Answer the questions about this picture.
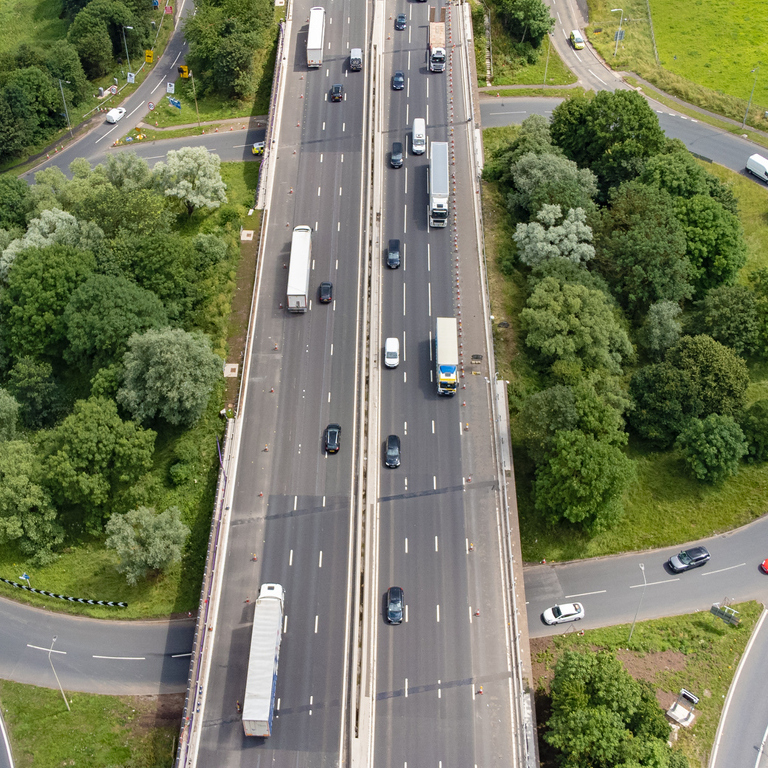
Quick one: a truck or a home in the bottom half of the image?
truck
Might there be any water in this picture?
No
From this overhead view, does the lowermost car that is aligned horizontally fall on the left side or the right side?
right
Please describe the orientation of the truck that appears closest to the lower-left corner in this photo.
up and down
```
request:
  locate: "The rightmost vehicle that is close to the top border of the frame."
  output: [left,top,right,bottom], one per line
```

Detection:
[568,30,586,50]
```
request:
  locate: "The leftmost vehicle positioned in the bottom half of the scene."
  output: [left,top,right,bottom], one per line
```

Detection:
[242,584,284,735]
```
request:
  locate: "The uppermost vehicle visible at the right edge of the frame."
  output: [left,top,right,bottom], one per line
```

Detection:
[740,157,768,185]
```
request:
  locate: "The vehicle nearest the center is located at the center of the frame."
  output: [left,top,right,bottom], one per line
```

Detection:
[384,337,400,368]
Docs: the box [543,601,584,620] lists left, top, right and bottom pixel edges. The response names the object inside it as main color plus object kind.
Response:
white car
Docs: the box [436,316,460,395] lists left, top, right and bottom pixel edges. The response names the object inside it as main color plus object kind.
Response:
white truck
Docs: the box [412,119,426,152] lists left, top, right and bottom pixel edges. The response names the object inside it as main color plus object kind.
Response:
white vehicle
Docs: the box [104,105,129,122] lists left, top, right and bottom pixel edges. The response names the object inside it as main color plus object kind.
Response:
white vehicle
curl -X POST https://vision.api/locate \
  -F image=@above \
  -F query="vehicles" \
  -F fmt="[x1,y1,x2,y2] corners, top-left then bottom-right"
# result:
[385,587,405,626]
[430,4,448,71]
[104,105,129,122]
[669,544,711,571]
[319,281,334,305]
[242,584,284,735]
[760,558,768,572]
[331,86,344,103]
[436,316,460,395]
[392,74,405,91]
[430,142,451,226]
[740,157,768,185]
[325,425,343,454]
[412,119,426,152]
[386,238,402,268]
[307,6,327,66]
[287,224,314,313]
[384,337,400,368]
[390,142,404,167]
[384,436,403,469]
[543,601,584,620]
[568,30,586,50]
[395,15,406,31]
